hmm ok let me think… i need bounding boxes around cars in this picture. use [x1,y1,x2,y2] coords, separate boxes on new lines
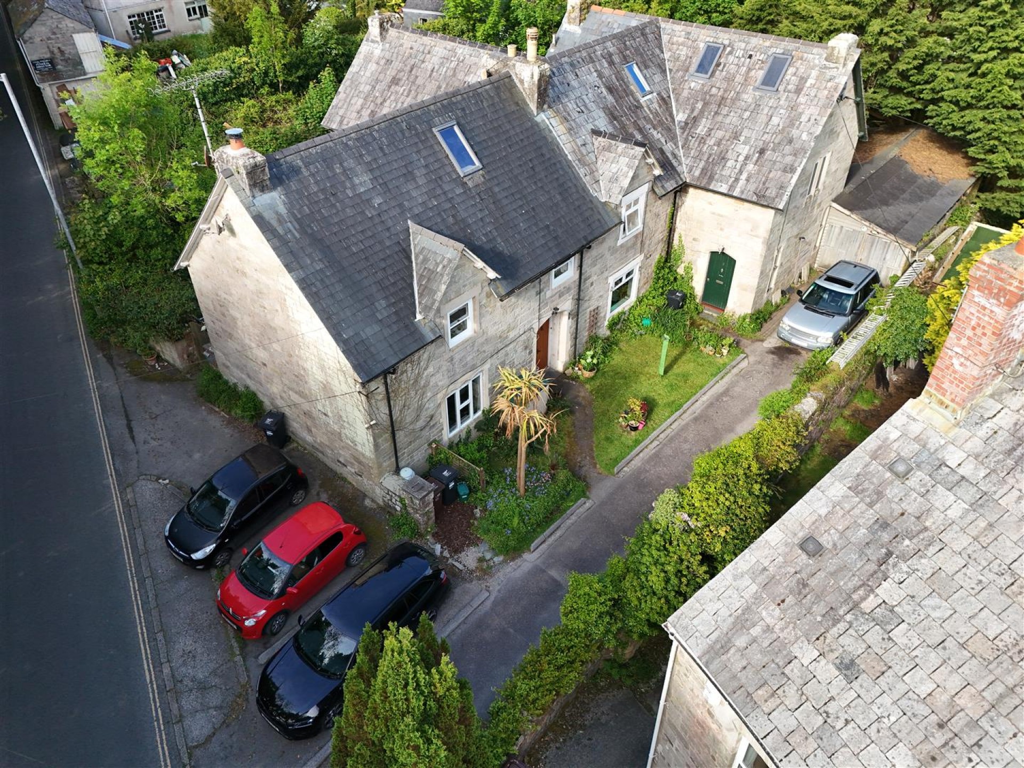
[781,250,886,353]
[211,495,367,638]
[256,542,453,738]
[159,436,307,567]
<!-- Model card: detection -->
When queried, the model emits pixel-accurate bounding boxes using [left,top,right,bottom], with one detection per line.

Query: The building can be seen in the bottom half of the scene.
[643,252,1024,768]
